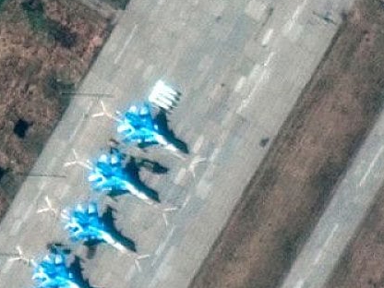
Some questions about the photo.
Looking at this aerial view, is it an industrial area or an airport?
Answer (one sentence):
The picture captures an airport.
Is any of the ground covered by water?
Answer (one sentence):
No, no water is visible.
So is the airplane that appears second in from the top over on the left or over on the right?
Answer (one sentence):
You can find the airplane that appears second in from the top on the left side of the picture.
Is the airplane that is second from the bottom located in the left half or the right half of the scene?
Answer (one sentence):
The airplane that is second from the bottom sits on the left side.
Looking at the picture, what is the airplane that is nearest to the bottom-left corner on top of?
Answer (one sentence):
The airplane that is nearest to the bottom-left corner is on the apron.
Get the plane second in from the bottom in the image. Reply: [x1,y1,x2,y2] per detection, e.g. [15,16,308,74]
[62,205,125,249]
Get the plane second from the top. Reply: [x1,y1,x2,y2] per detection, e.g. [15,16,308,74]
[84,155,149,199]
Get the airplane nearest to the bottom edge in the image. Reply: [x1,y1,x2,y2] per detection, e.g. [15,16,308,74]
[29,254,80,288]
